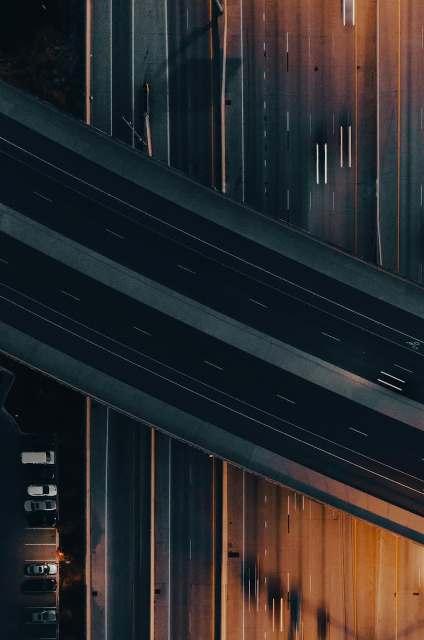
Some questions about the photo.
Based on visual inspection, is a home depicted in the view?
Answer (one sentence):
No, there's no home here.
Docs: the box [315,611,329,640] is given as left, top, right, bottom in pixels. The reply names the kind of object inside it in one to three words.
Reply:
vehicle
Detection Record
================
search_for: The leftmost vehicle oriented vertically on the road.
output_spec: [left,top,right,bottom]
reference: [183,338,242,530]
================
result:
[247,565,261,595]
